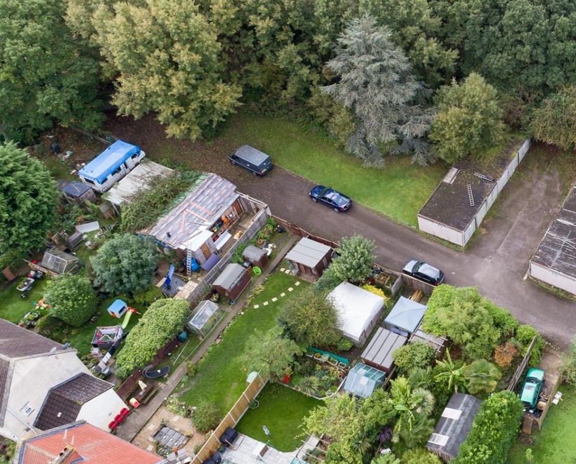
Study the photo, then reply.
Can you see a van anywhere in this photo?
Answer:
Yes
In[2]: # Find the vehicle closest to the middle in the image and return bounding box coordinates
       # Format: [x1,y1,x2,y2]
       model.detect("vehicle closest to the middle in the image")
[306,187,354,214]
